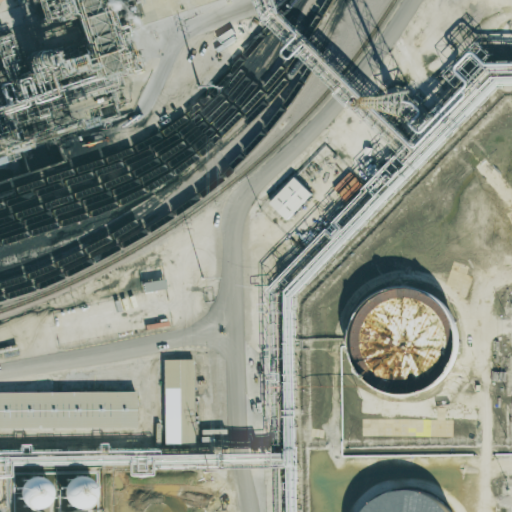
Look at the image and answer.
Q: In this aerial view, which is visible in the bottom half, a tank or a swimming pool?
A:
tank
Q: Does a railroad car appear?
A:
Yes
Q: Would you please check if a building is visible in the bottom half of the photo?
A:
Yes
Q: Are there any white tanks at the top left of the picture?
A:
No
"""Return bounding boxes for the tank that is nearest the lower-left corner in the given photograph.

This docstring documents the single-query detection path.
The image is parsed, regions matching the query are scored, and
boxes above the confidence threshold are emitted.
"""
[21,475,56,508]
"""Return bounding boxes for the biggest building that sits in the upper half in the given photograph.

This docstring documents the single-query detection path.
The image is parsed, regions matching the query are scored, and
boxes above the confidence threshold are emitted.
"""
[272,178,312,220]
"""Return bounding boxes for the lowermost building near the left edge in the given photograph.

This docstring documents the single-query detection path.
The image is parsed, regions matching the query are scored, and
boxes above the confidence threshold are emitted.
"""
[0,390,140,434]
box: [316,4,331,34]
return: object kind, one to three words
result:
rail car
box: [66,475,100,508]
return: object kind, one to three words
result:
storage tank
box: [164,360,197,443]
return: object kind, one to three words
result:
building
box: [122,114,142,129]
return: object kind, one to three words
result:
vehicle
